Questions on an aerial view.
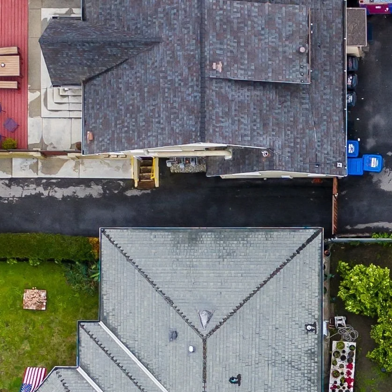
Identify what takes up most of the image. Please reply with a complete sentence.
The largest share of the image is taken up by buildings.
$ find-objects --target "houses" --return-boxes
[38,0,350,179]
[32,225,327,392]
